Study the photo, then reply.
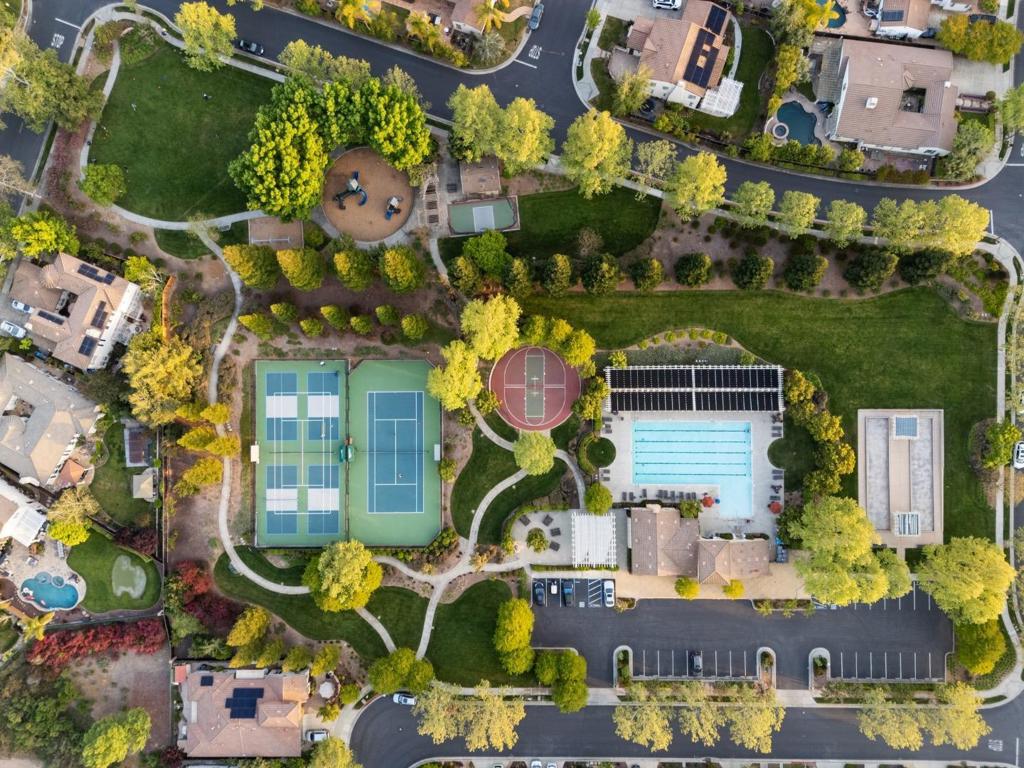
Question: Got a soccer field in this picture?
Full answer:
No, there isn't any soccer field down there.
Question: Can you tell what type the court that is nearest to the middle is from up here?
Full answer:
The court that is nearest to the middle in the image is a basketball court.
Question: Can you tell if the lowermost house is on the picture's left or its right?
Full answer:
The lowermost house appears in the left half of the scene.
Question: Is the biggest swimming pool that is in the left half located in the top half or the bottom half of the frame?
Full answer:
The biggest swimming pool that is in the left half is in the bottom half of the image.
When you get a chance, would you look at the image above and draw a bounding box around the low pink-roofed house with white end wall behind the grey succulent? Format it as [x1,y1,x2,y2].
[452,0,498,38]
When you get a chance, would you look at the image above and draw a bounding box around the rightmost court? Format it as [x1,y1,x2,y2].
[490,346,581,429]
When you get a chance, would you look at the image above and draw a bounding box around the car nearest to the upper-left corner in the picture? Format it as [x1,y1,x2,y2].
[239,40,264,56]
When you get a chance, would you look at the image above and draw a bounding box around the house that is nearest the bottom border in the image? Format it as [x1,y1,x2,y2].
[187,667,312,757]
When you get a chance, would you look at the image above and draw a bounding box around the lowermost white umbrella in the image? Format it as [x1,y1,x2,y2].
[319,680,334,696]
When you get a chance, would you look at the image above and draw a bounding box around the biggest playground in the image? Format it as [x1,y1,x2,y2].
[321,147,415,240]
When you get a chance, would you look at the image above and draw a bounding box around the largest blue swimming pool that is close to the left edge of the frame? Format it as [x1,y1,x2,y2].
[17,571,82,612]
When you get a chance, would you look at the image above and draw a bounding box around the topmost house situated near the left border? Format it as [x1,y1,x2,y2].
[10,255,142,368]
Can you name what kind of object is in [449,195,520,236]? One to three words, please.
sports court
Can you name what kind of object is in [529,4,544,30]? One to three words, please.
car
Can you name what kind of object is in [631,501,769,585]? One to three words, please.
building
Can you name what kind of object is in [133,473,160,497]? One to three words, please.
gazebo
